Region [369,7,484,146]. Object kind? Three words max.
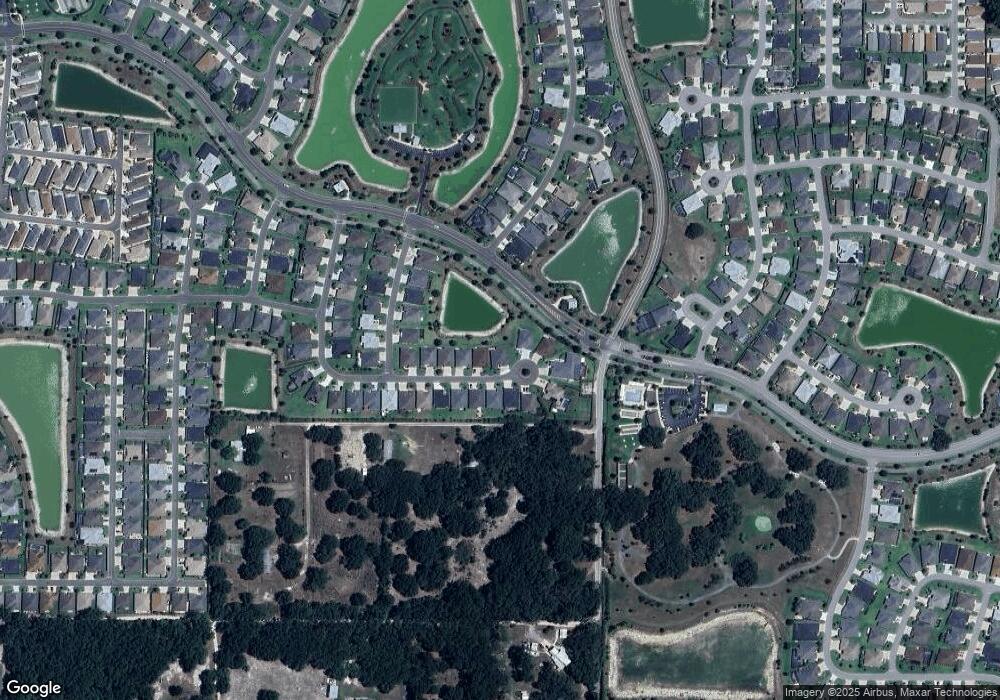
golf course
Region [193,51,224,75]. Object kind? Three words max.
house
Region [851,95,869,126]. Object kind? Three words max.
house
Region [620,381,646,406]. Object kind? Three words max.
swimming pool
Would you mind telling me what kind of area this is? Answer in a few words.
residential area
